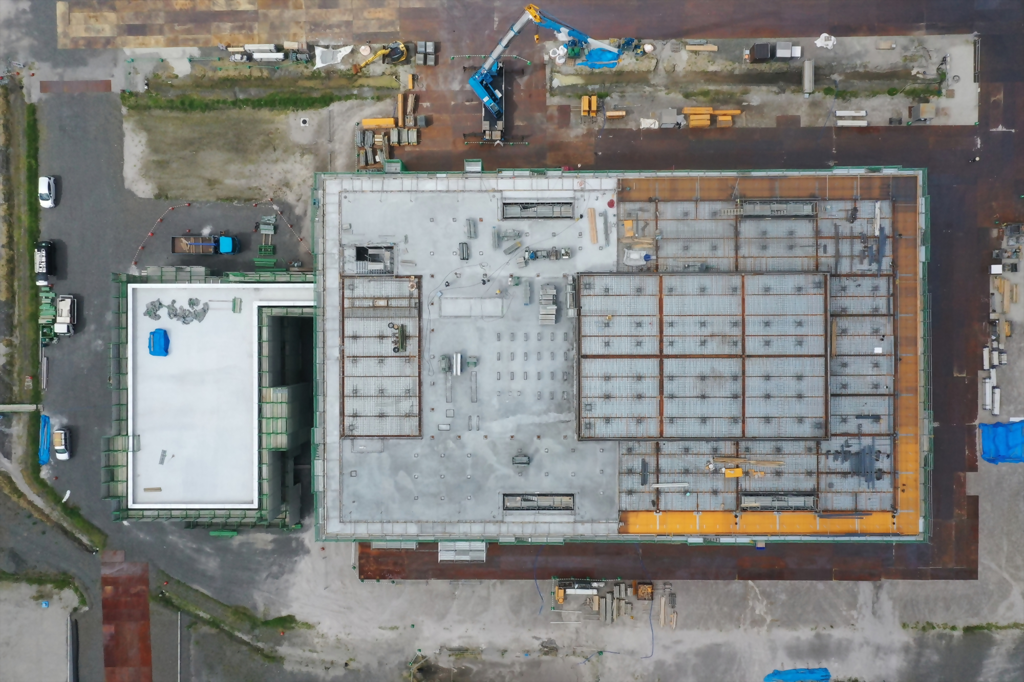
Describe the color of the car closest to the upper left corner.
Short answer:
white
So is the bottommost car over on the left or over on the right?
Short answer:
left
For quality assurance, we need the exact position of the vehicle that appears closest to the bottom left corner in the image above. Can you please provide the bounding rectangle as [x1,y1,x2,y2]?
[55,427,75,459]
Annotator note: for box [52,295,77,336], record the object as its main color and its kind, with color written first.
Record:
white truck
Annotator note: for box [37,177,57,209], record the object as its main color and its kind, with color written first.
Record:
white car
